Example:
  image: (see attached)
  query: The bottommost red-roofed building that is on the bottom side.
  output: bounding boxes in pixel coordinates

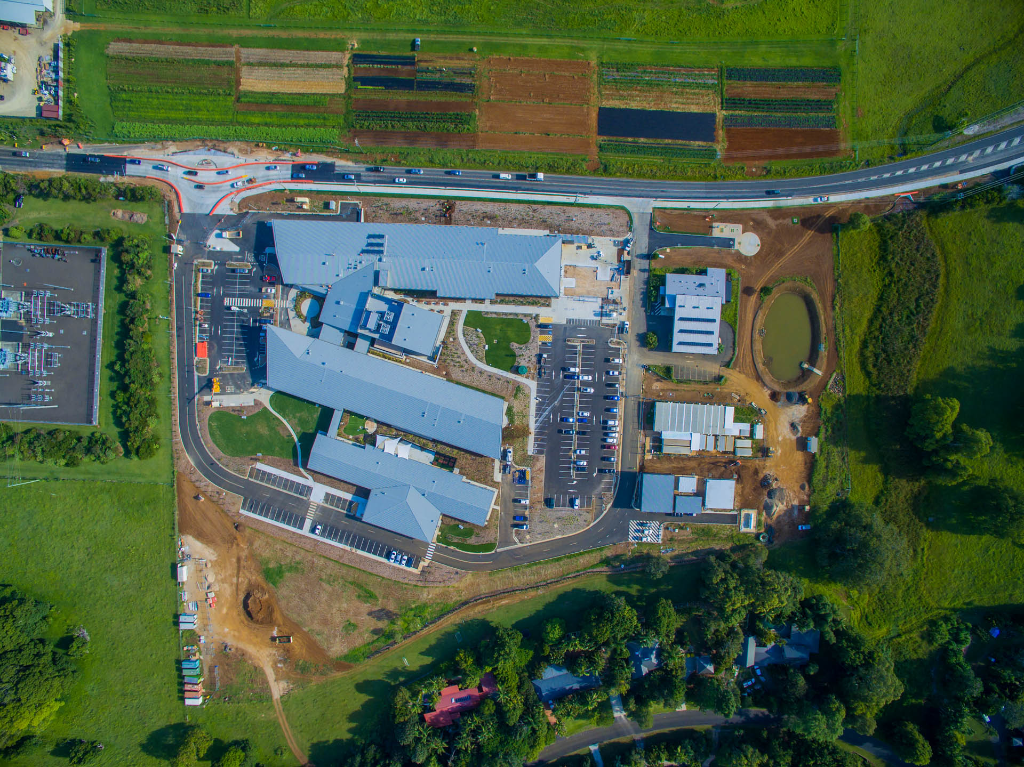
[424,673,499,728]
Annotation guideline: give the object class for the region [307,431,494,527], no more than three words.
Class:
building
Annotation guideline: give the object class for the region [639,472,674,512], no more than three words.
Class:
shed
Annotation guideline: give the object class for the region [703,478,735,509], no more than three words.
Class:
shed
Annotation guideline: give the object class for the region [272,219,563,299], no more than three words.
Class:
building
